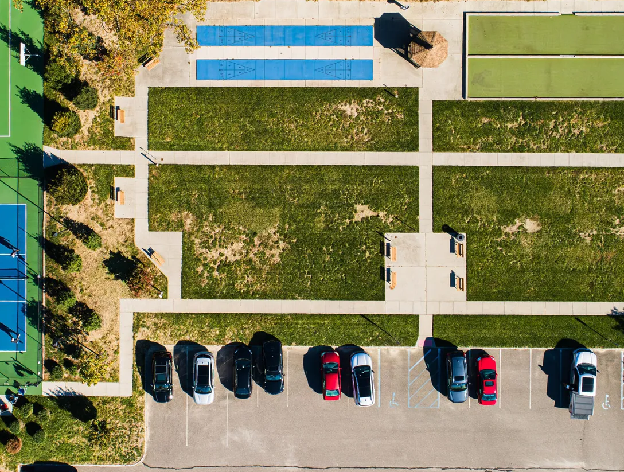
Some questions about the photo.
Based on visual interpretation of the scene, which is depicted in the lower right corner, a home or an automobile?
automobile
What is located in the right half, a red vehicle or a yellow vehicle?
red vehicle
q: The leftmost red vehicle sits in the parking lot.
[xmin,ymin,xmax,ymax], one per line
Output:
[319,350,342,399]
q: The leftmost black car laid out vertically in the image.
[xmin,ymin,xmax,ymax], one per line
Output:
[150,350,175,401]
